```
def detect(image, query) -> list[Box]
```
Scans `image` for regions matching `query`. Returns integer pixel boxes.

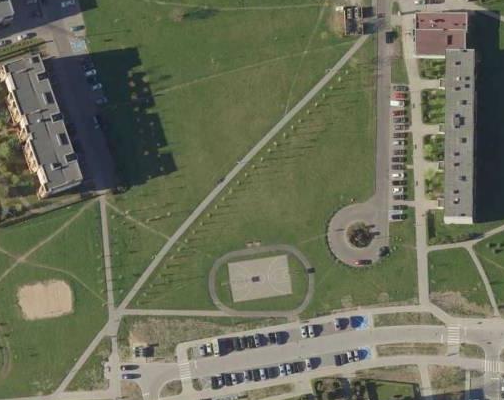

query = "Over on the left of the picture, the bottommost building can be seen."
[0,54,83,196]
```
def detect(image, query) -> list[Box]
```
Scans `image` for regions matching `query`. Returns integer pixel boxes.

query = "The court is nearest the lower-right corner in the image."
[229,255,293,302]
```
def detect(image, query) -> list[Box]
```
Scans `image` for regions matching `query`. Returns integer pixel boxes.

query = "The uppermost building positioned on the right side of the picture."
[415,12,467,59]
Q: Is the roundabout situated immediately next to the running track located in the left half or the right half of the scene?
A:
right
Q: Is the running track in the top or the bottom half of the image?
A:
bottom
